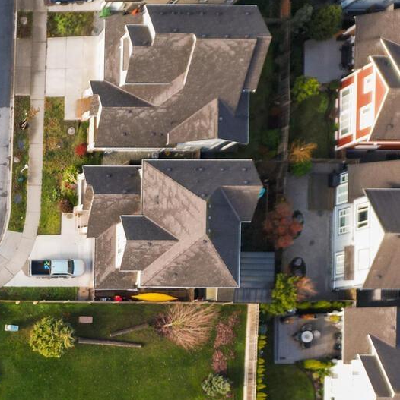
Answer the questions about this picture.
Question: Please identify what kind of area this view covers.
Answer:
residential area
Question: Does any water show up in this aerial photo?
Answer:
No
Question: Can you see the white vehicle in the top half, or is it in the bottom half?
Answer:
bottom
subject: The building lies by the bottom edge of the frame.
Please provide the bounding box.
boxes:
[323,304,400,400]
